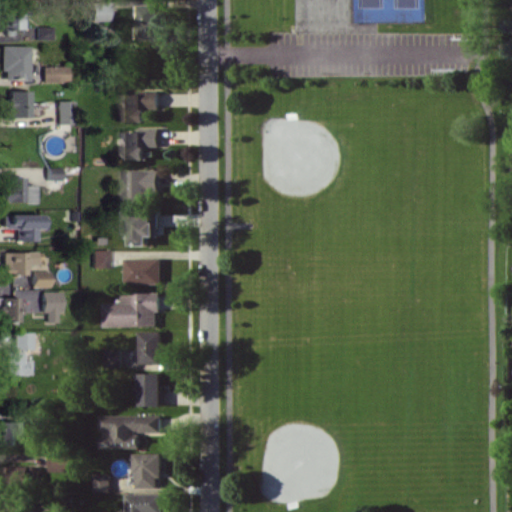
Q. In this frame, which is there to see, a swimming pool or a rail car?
swimming pool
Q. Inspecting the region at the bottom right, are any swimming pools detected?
No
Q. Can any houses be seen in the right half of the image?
No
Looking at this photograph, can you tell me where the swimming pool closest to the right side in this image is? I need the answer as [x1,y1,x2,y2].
[110,460,130,478]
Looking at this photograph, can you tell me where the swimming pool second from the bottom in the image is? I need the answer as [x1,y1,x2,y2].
[56,268,74,284]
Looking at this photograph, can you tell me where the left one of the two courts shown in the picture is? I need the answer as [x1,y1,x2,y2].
[353,0,388,24]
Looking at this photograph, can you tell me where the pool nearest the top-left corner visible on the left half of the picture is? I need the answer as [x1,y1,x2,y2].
[42,132,70,160]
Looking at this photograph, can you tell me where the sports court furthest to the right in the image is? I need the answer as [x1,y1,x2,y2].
[388,0,424,24]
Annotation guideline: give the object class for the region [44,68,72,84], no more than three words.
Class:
building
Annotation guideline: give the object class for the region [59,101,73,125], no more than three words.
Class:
building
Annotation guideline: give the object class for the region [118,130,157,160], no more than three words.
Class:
house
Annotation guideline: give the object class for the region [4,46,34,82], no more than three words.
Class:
house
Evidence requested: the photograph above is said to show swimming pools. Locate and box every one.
[56,268,74,284]
[42,132,70,160]
[110,460,130,478]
